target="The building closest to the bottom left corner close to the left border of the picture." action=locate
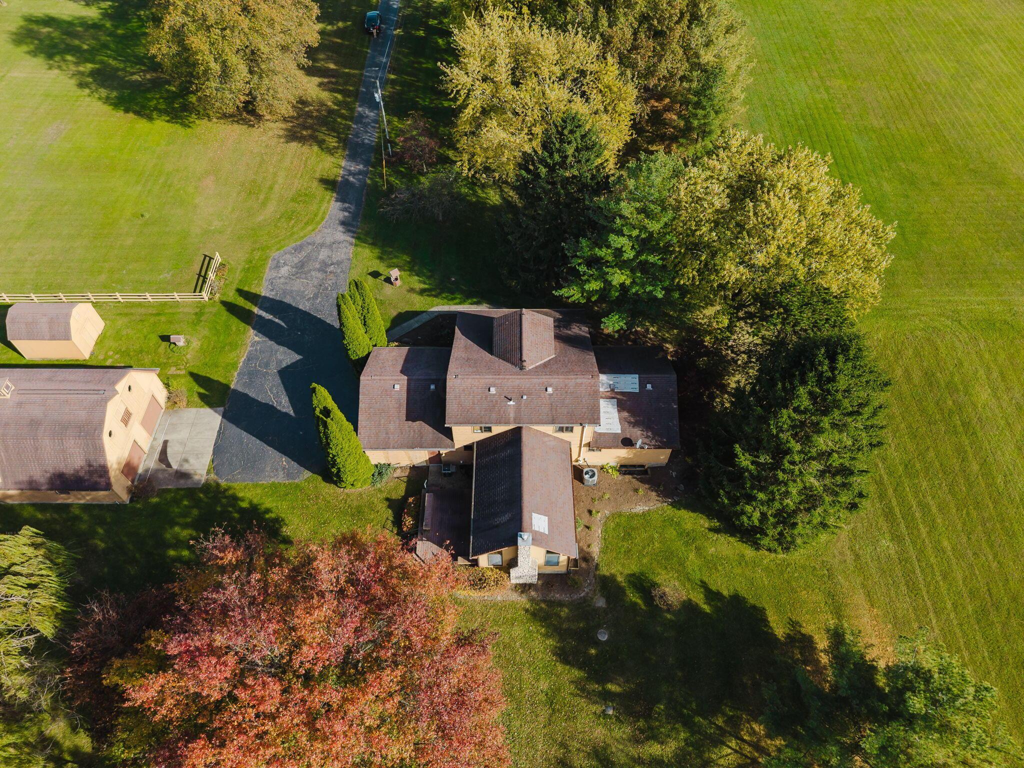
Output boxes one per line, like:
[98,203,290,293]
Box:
[0,368,171,505]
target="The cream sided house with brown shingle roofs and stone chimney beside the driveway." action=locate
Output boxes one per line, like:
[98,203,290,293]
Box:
[358,309,679,583]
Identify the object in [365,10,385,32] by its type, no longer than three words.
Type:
car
